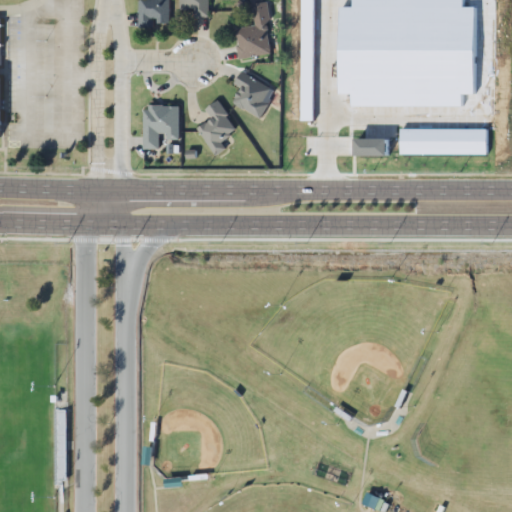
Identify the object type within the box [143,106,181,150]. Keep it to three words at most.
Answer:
house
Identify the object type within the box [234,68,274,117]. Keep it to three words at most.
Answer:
house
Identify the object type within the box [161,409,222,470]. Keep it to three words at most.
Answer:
baseball field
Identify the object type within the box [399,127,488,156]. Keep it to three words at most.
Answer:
building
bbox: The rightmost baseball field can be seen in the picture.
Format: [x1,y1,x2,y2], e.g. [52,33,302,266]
[332,342,403,416]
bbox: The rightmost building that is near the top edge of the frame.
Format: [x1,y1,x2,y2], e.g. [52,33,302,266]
[336,0,478,106]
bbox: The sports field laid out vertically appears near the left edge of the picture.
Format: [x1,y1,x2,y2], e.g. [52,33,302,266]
[0,312,56,512]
